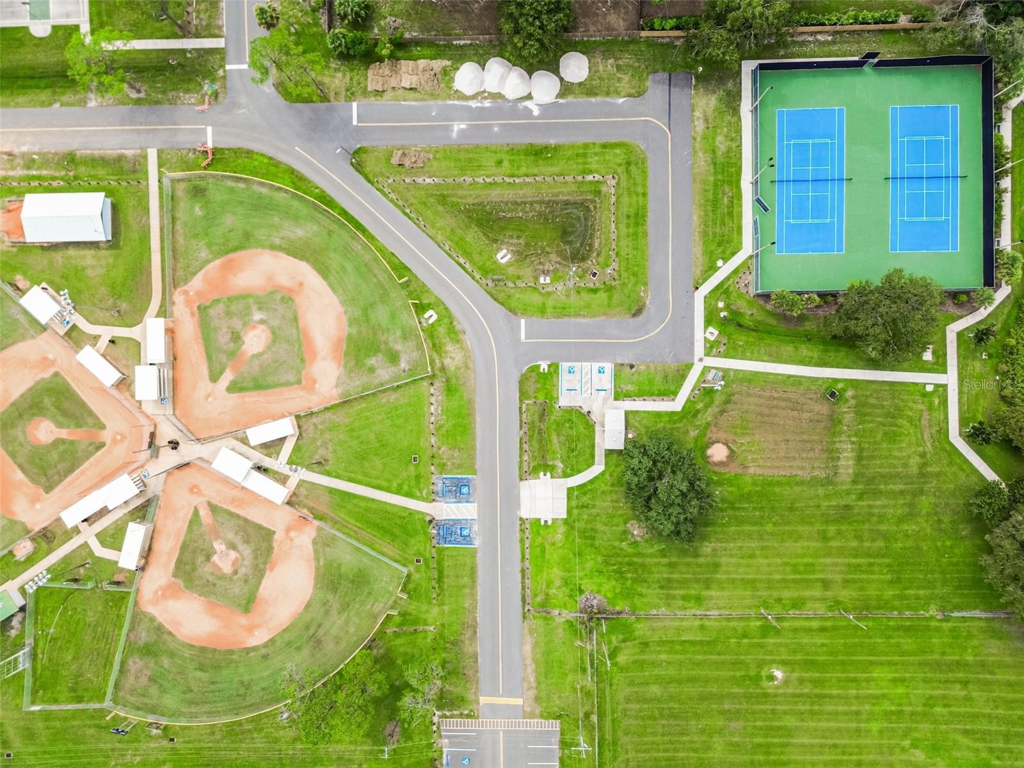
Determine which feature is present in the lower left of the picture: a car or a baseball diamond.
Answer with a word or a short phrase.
baseball diamond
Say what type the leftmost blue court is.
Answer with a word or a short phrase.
tennis court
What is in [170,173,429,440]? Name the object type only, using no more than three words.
baseball field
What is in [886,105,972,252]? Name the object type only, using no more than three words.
tennis court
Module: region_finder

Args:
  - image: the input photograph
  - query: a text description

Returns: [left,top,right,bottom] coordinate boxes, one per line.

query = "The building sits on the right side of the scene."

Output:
[605,410,627,450]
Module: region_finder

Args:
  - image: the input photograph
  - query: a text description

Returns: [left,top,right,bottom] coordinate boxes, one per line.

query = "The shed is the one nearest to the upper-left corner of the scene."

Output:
[14,192,110,242]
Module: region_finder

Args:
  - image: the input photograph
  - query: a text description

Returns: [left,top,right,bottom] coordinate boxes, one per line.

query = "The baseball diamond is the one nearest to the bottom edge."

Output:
[112,458,405,718]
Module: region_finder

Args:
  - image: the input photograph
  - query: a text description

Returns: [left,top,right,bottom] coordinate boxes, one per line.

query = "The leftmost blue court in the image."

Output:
[770,107,856,253]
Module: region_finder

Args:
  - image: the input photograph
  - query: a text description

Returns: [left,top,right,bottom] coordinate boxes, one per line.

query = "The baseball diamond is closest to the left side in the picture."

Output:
[0,290,155,551]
